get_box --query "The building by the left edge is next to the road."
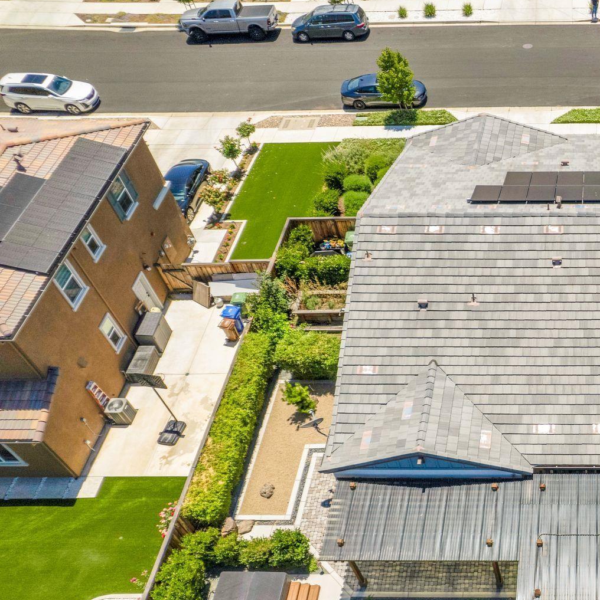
[0,116,193,477]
